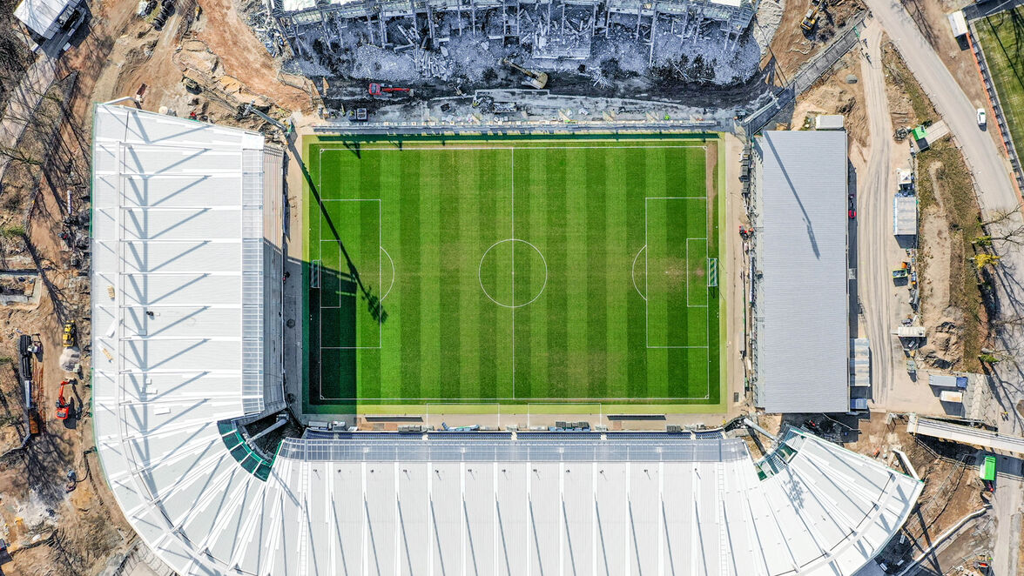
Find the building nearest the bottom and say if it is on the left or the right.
right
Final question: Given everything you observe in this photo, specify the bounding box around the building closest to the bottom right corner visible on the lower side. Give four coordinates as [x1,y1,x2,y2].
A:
[849,336,870,386]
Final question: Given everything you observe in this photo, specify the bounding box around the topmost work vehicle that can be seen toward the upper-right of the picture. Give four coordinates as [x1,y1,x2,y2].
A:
[800,0,832,32]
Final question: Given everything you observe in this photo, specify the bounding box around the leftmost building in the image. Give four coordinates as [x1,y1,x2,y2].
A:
[11,0,90,36]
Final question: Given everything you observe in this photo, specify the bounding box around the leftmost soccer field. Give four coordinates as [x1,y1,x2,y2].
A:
[301,131,727,426]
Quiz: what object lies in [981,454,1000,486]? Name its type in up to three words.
vehicle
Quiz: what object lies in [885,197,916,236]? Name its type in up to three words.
building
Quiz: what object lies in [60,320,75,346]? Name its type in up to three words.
work vehicle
